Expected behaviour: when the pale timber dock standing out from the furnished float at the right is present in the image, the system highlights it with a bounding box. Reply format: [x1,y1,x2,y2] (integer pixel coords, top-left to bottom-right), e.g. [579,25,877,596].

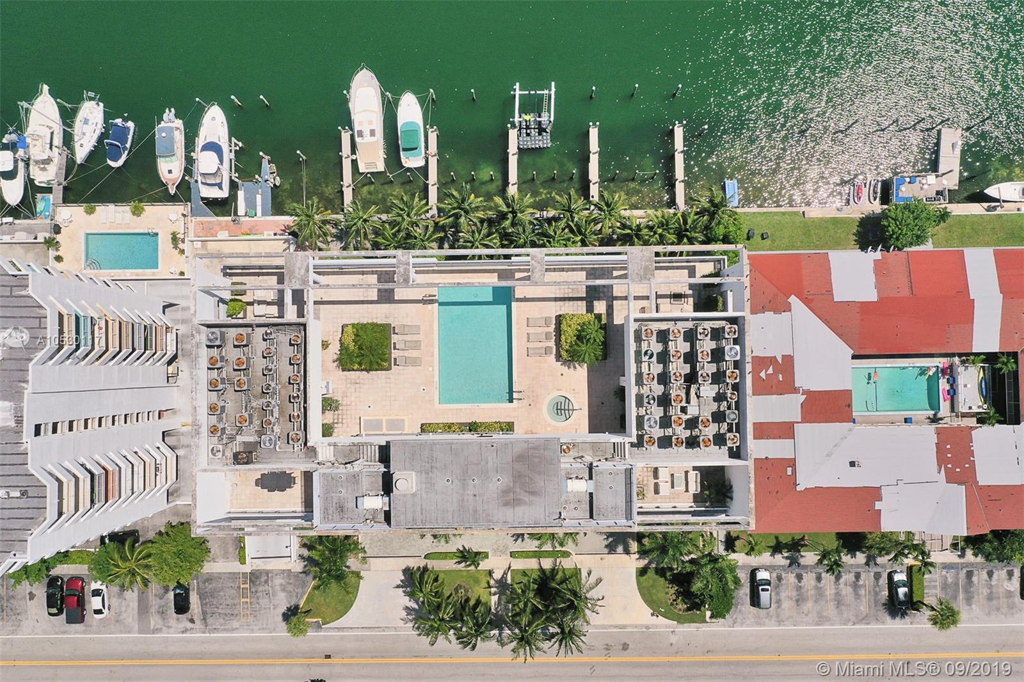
[937,128,961,190]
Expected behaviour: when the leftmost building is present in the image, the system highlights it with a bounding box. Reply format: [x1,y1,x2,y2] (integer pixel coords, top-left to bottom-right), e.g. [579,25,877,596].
[0,255,181,582]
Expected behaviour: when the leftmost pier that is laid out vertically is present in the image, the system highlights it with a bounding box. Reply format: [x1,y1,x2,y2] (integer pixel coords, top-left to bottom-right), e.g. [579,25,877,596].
[53,150,68,205]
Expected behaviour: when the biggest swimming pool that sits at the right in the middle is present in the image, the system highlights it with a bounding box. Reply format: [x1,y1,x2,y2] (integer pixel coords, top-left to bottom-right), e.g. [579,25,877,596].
[852,361,942,415]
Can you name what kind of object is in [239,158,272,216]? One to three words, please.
pier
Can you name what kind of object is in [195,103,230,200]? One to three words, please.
boat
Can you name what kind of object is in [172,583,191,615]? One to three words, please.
car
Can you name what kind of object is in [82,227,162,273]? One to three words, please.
swimming pool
